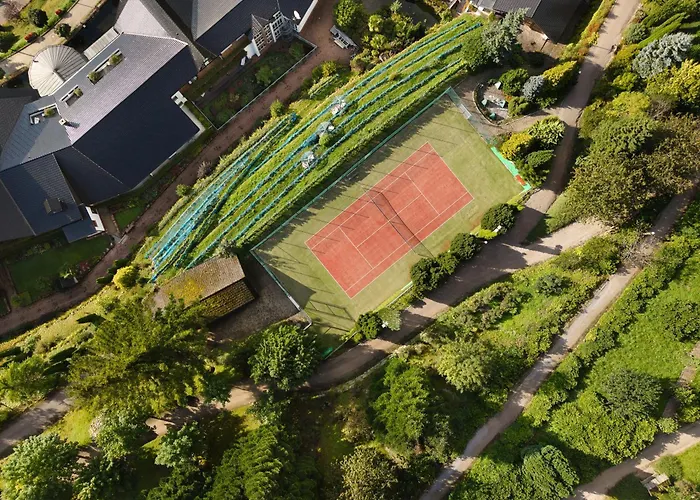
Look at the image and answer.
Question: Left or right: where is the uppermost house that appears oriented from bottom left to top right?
left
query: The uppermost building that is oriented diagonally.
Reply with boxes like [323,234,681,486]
[0,0,327,256]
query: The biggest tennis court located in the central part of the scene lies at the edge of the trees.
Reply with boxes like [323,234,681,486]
[255,95,524,350]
